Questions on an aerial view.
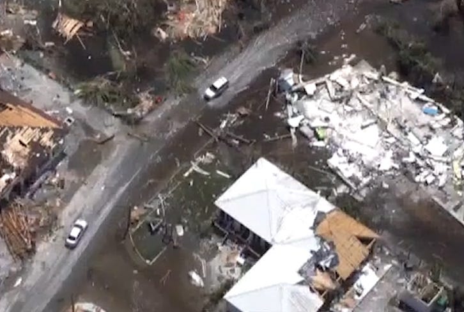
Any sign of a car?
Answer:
Yes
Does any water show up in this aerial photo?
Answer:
Yes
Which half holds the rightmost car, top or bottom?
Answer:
top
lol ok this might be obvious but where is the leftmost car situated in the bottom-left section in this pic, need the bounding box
[62,215,92,252]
